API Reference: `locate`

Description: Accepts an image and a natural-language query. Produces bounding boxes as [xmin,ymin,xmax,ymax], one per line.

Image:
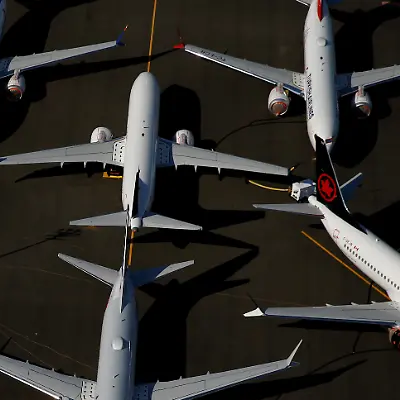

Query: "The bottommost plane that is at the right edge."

[244,136,400,352]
